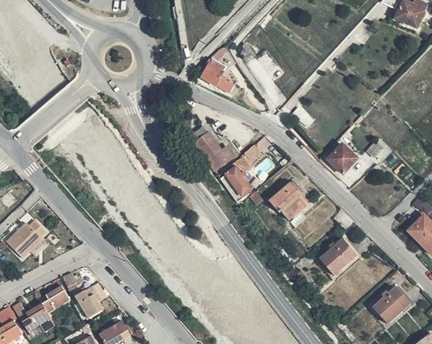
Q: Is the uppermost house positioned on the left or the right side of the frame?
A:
right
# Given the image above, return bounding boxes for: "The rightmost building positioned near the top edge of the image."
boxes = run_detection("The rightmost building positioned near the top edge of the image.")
[394,0,426,28]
